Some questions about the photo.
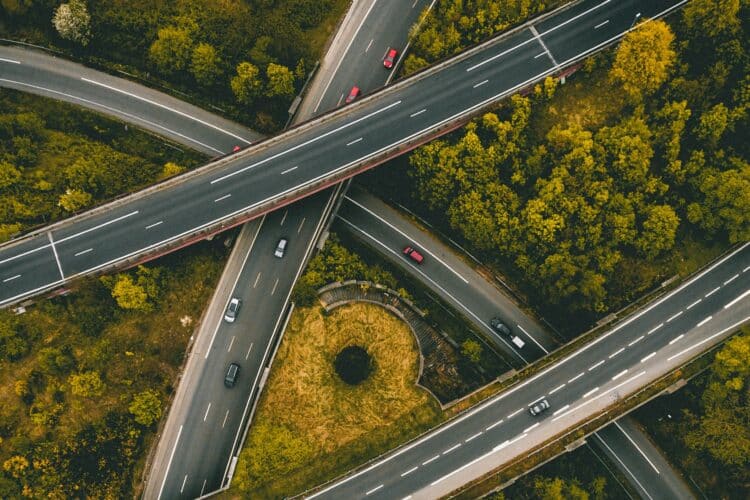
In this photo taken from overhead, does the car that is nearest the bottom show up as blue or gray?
gray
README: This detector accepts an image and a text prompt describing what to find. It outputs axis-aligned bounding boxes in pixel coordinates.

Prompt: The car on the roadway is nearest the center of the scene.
[402,246,425,265]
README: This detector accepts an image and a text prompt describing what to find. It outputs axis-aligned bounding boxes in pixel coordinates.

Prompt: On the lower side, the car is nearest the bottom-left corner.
[223,362,241,388]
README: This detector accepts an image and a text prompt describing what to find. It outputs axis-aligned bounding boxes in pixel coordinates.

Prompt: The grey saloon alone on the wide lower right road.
[527,398,552,418]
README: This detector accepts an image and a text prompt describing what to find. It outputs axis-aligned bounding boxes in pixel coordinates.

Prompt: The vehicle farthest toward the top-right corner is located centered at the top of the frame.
[382,49,398,69]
